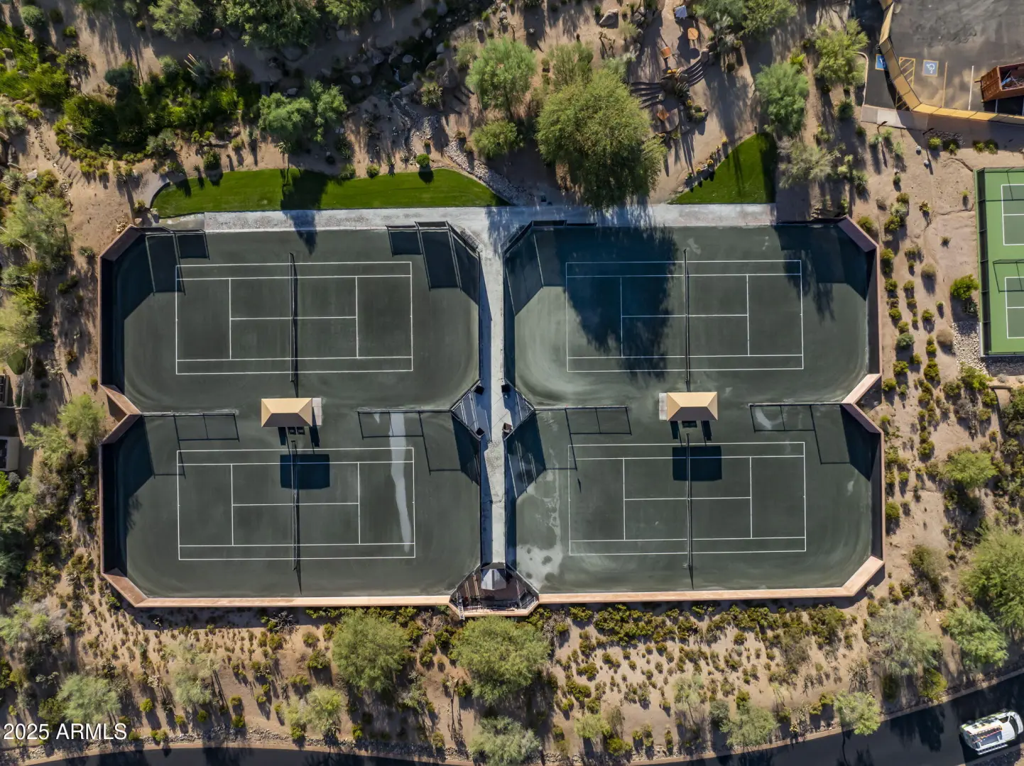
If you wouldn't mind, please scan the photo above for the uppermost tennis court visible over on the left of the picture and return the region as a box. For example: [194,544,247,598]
[114,228,480,412]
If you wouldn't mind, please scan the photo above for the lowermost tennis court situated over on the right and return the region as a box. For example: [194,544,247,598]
[505,403,871,594]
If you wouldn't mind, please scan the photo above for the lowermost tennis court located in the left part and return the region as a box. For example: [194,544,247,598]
[115,411,481,598]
